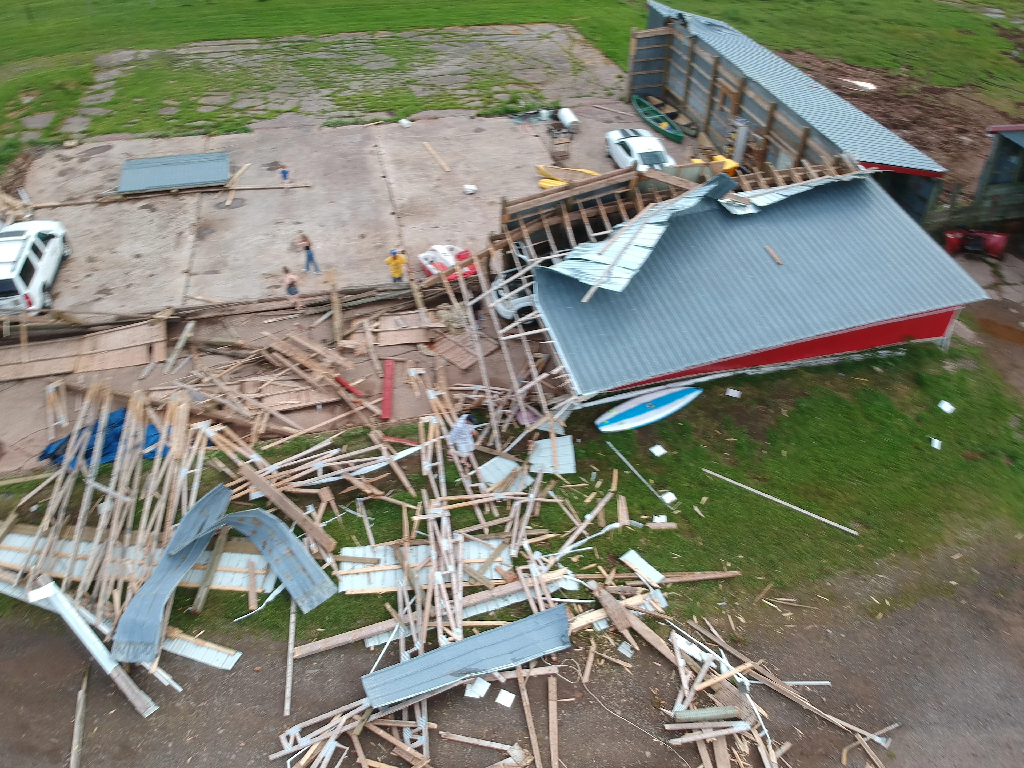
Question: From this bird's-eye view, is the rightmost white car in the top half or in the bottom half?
top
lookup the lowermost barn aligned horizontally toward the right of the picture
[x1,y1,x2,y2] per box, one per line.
[421,152,989,449]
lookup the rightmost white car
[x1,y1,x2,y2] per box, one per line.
[609,129,686,178]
